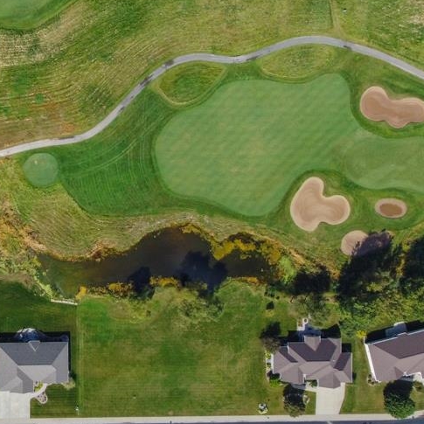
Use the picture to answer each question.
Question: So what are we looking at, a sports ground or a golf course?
golf course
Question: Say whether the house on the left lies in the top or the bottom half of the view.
bottom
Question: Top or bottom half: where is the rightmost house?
bottom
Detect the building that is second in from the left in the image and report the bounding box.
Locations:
[270,335,353,388]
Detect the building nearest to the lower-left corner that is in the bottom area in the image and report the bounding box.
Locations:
[0,340,69,393]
